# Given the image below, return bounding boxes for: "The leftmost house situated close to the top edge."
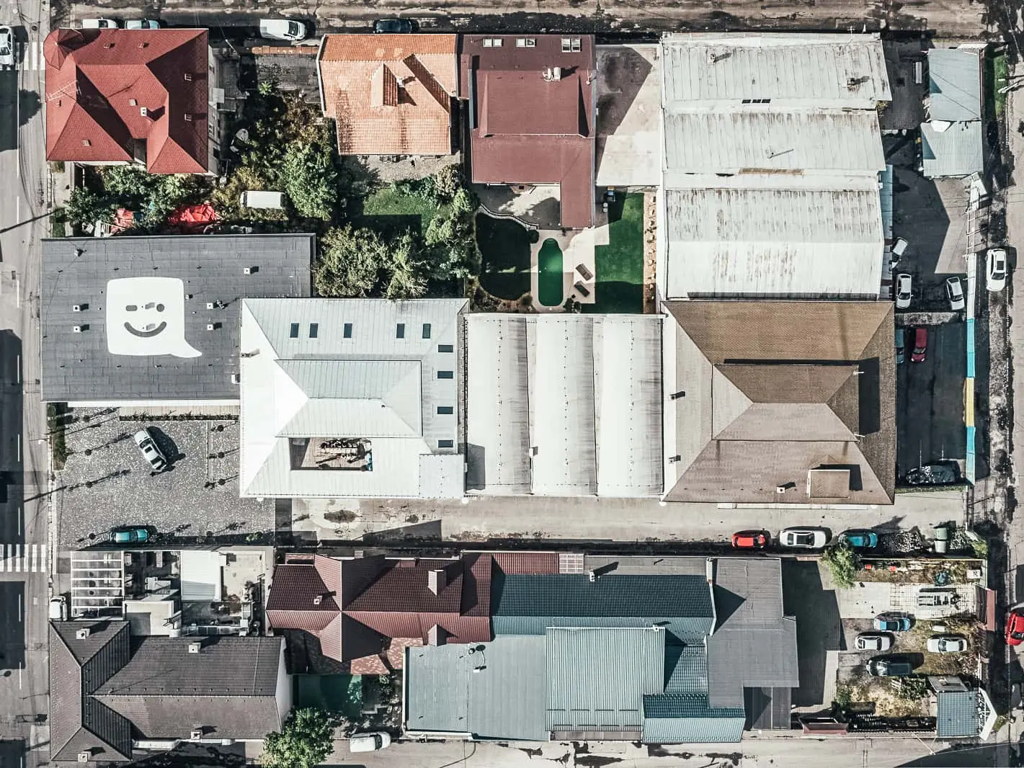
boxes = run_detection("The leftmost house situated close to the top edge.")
[40,26,221,180]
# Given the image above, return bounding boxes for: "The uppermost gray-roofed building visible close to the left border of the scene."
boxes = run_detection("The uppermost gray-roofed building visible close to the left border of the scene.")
[40,233,323,407]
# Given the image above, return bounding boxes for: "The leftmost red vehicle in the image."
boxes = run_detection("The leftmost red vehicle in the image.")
[733,531,770,549]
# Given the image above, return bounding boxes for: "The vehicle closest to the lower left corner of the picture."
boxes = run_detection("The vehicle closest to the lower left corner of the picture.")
[44,597,65,624]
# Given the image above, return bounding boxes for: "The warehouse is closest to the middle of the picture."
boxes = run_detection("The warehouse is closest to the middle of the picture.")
[465,313,663,499]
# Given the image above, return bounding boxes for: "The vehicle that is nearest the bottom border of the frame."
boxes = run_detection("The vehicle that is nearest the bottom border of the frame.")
[348,732,391,758]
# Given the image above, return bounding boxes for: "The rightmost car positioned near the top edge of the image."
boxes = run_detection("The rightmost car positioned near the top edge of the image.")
[371,14,413,33]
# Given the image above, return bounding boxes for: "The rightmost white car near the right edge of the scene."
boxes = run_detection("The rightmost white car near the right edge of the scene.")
[987,246,1011,290]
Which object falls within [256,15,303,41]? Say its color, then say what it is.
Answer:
white vehicle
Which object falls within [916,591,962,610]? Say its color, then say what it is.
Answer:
white trailer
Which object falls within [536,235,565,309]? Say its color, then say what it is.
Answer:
green swimming pool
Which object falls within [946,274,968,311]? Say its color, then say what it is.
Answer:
white car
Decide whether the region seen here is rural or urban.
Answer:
urban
